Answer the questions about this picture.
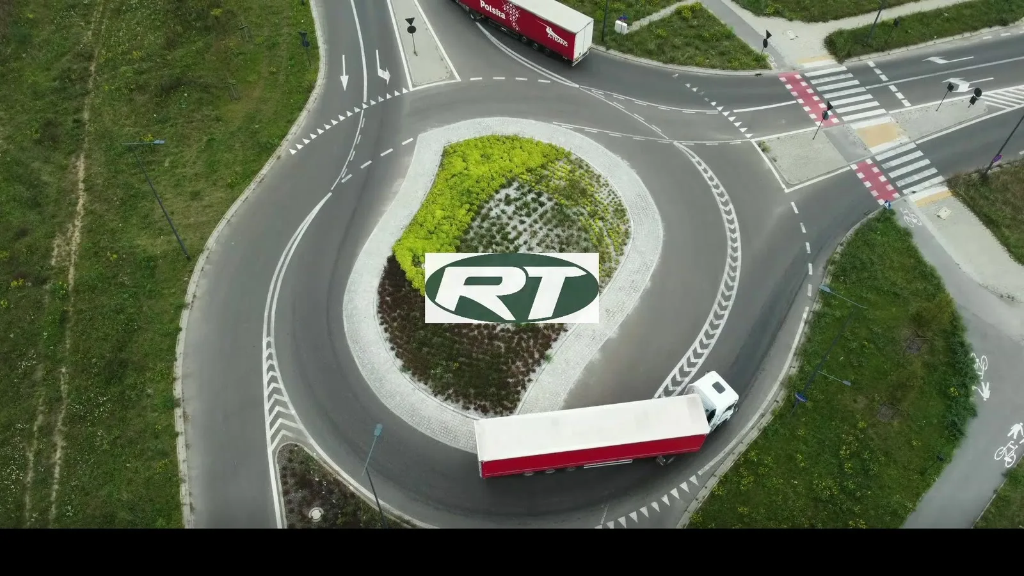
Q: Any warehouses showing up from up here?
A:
No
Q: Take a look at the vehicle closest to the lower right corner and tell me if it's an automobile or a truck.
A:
truck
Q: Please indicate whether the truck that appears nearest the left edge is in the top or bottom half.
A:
top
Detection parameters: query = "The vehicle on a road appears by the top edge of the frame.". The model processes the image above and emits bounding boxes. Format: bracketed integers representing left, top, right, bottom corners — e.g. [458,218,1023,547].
[436,0,594,67]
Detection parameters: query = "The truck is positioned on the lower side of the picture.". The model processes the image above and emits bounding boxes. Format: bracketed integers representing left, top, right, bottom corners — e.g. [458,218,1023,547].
[475,367,744,483]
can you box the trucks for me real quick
[475,367,744,483]
[436,0,594,67]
